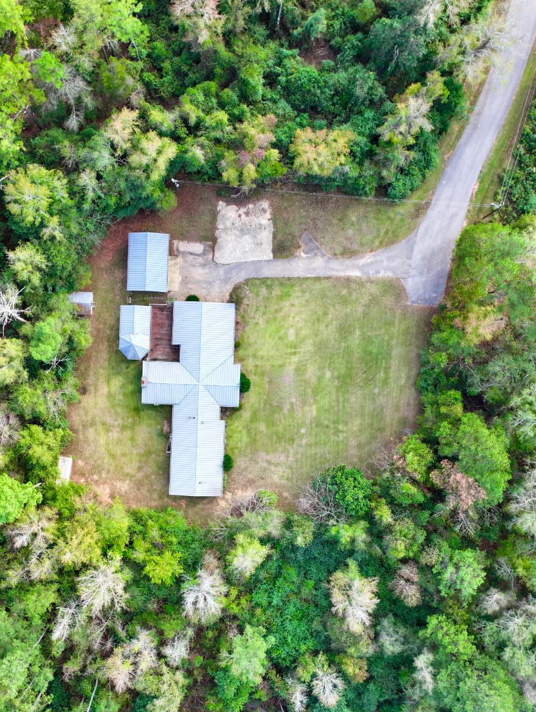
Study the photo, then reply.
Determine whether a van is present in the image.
No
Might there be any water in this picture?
No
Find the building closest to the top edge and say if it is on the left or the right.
left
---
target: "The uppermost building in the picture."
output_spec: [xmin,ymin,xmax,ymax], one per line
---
[126,232,169,292]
